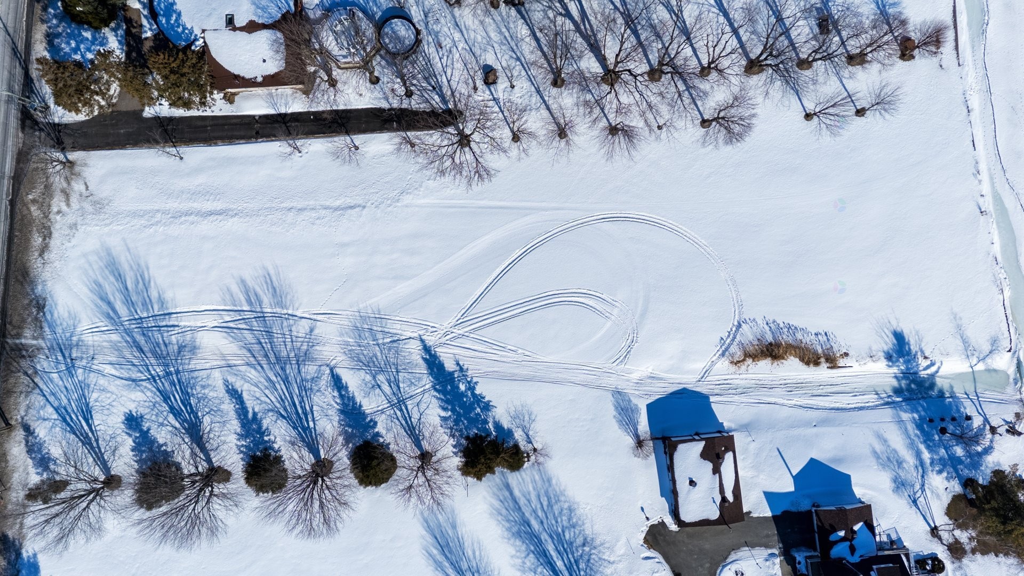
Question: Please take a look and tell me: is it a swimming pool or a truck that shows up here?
swimming pool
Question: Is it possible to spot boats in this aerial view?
No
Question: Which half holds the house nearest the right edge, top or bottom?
bottom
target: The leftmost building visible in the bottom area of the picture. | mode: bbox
[664,431,745,528]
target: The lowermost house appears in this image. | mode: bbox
[800,500,913,576]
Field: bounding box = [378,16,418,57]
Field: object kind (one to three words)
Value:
swimming pool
